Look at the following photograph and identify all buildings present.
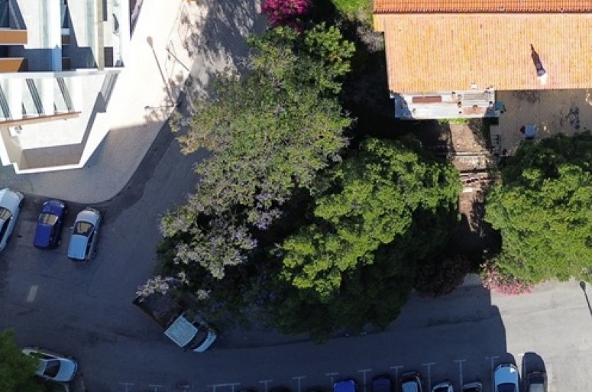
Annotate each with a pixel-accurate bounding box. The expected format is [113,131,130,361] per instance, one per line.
[0,0,143,173]
[372,0,592,92]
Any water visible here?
No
